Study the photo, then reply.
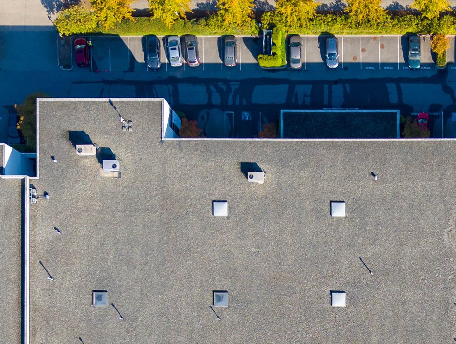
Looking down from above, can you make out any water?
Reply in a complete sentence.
No, no water is visible.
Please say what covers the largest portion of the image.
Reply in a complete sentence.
The bulk of the photo consists of buildings.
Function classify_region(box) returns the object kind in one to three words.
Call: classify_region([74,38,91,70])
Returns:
car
